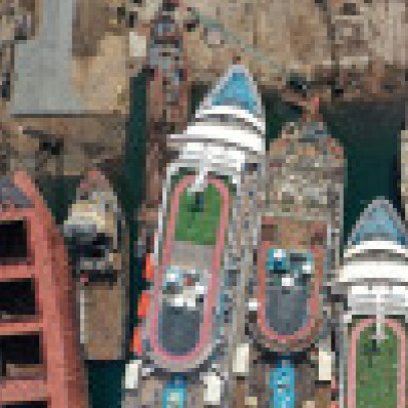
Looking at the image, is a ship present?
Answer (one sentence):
Yes, there is a ship in the image.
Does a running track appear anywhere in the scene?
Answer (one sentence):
Yes, there's a running track here.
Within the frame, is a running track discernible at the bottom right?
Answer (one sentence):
Yes, there is a running track at the bottom right.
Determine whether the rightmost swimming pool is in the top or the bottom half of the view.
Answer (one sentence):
Seen from above, the rightmost swimming pool lies in the bottom half of the view.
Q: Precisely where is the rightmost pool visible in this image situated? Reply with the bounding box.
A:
[269,356,295,408]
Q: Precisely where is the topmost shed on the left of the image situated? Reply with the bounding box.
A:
[130,31,148,57]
